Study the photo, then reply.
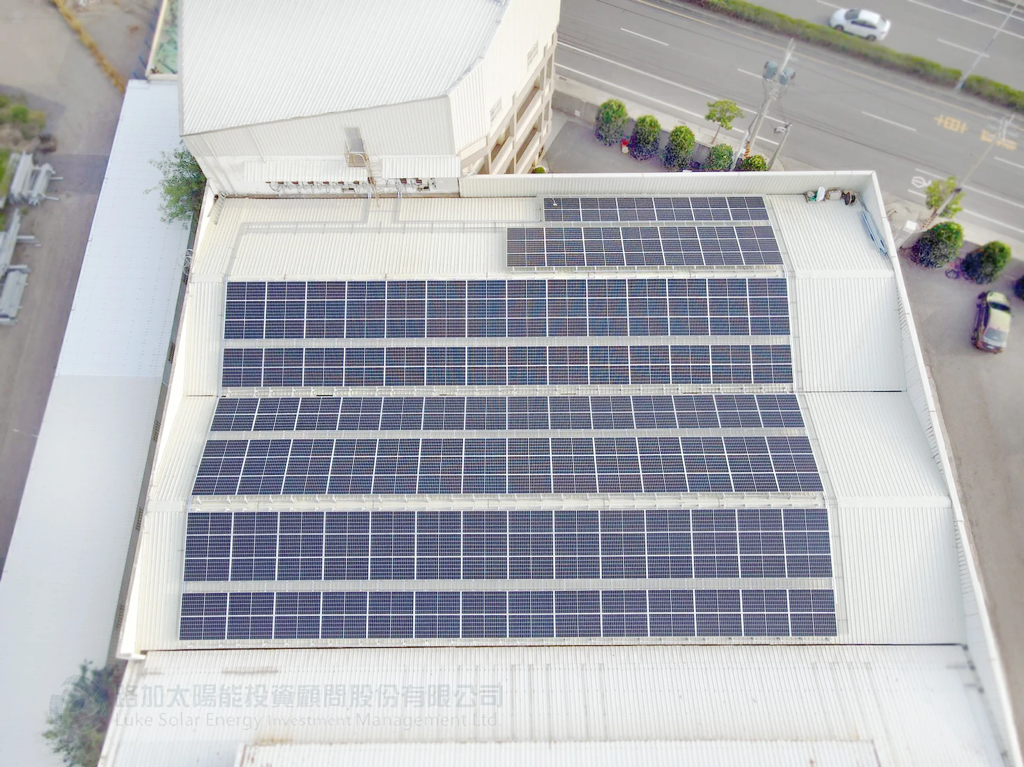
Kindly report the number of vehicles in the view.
2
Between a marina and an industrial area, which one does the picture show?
industrial area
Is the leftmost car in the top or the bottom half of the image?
top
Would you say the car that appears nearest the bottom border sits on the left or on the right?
right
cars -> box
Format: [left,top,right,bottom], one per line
[830,2,895,39]
[970,289,1013,355]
